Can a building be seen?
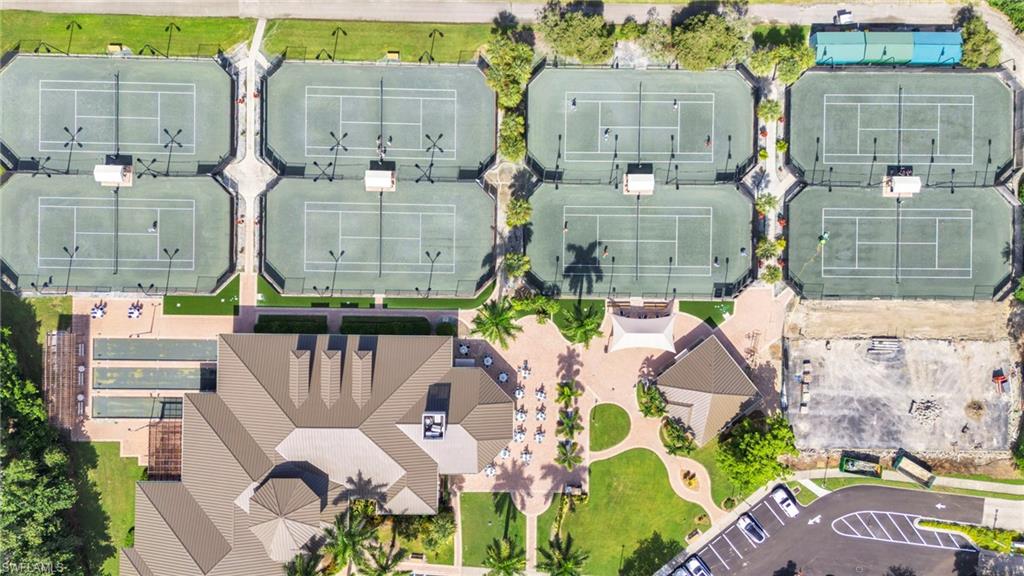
Yes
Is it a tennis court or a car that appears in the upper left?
tennis court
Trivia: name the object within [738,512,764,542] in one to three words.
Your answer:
car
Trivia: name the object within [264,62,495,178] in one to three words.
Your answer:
tennis court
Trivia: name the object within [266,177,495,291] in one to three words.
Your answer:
tennis court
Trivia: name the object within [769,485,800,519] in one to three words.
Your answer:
car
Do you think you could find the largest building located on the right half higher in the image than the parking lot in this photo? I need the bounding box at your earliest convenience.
[655,335,763,447]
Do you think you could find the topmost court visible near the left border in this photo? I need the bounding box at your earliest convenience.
[0,56,227,174]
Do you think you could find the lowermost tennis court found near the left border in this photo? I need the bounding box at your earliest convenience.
[0,173,226,291]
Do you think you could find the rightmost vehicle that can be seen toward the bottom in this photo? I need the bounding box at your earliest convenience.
[994,368,1009,393]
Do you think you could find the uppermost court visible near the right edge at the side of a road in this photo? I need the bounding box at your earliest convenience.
[794,73,1014,184]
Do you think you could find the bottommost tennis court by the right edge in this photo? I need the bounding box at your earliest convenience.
[794,185,1013,298]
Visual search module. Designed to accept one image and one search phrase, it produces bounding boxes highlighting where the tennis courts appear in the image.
[526,183,752,294]
[0,173,226,291]
[526,69,753,182]
[266,177,495,291]
[794,185,1013,298]
[264,62,495,178]
[794,73,1014,184]
[0,56,227,174]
